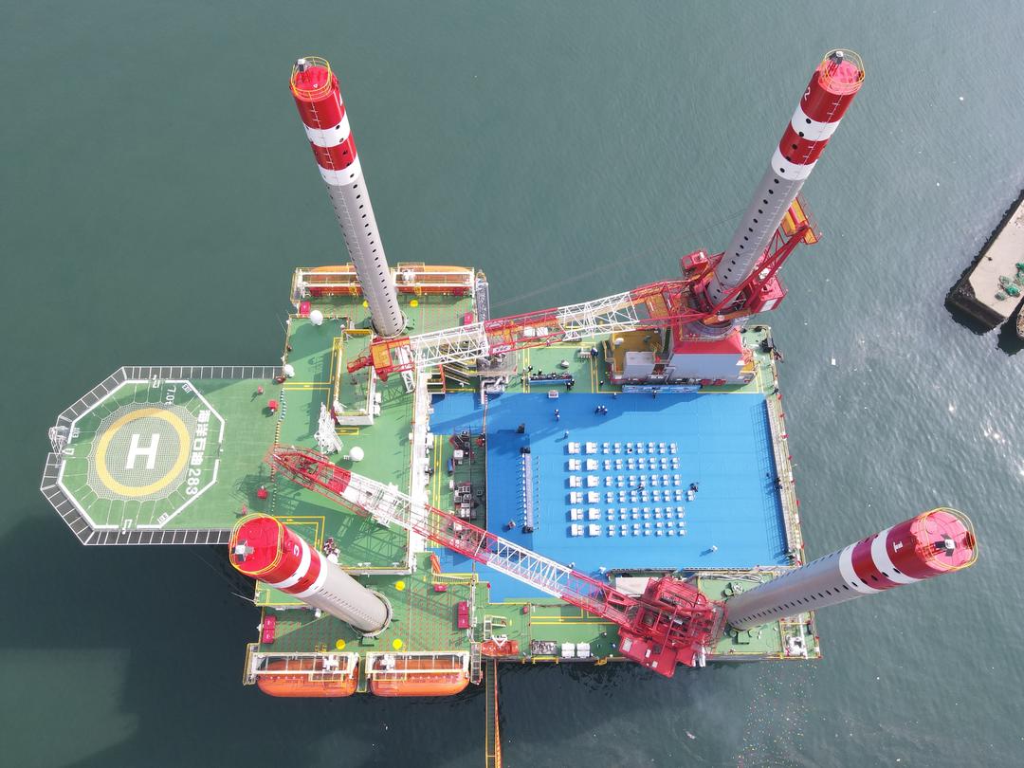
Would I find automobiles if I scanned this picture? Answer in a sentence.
No, the frame has no automobile in it.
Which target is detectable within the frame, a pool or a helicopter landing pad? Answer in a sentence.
It is a helicopter landing pad that can be seen here.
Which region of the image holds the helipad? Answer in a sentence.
The helipad appears toward the left of the photo.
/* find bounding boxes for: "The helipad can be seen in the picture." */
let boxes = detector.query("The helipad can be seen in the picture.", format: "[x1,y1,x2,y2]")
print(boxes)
[40,365,282,546]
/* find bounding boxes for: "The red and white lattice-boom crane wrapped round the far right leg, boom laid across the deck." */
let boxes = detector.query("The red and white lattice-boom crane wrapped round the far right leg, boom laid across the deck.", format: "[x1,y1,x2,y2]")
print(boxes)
[345,187,837,387]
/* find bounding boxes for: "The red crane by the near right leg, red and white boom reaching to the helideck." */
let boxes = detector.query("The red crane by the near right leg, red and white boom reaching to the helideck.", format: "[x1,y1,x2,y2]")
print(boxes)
[263,439,729,684]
